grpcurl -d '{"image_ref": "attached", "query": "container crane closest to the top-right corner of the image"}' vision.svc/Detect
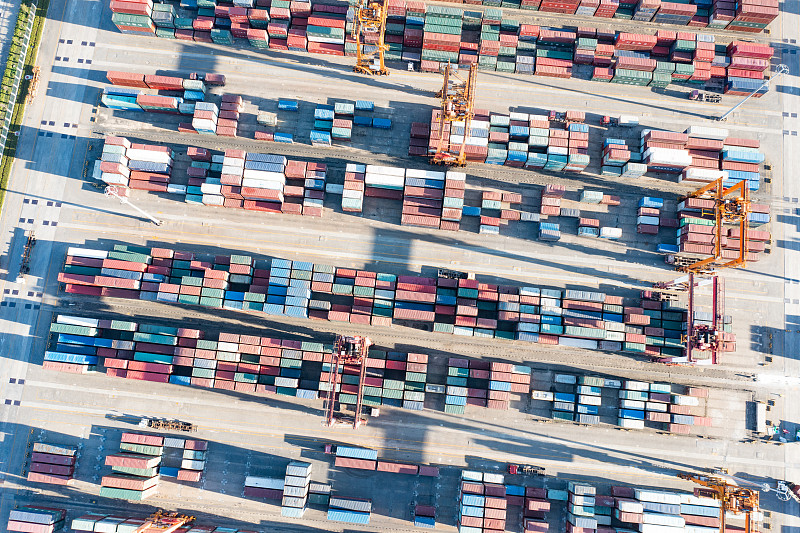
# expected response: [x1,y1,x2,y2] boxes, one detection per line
[676,173,754,277]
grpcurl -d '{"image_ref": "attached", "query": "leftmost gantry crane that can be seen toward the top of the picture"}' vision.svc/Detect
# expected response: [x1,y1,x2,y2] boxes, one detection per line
[350,0,401,77]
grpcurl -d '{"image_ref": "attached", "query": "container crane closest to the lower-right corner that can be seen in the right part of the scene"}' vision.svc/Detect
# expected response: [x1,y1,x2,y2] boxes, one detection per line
[677,471,760,533]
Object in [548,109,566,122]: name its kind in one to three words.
vehicle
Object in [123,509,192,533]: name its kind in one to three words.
container crane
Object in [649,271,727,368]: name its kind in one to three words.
container crane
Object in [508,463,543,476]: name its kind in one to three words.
vehicle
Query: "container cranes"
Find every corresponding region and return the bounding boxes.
[350,0,401,77]
[677,471,760,533]
[123,509,192,533]
[649,271,727,368]
[676,173,754,277]
[325,331,378,427]
[427,59,482,169]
